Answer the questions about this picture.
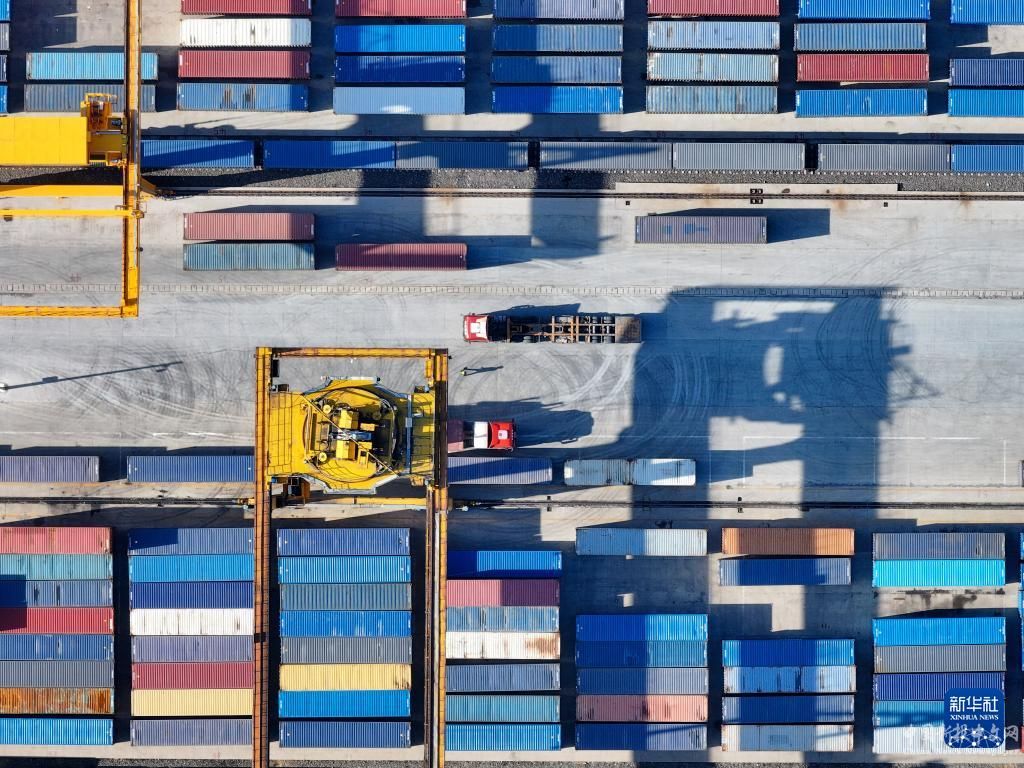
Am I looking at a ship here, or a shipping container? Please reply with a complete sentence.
I can see a shipping container in this picture.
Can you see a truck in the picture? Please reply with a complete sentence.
Yes, there's a truck down there.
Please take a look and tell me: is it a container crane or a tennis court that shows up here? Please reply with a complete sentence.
Of the two, only a container crane appears.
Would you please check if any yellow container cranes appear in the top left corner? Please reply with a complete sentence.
Yes, in the top left corner there is a yellow container crane.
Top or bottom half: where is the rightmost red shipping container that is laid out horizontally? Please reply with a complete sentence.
You can find the rightmost red shipping container that is laid out horizontally in the top half.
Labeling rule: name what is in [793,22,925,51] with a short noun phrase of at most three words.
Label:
shipping container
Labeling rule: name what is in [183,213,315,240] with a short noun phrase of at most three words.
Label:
shipping container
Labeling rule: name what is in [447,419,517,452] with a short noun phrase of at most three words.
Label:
truck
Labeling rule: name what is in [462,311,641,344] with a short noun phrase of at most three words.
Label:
truck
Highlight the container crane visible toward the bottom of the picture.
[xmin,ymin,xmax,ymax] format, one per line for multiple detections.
[245,348,469,768]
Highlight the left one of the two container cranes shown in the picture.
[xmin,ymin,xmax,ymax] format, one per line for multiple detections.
[0,0,182,318]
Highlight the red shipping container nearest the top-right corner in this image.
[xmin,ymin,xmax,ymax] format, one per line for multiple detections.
[796,54,928,82]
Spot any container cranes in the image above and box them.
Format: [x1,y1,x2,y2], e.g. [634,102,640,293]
[245,348,469,768]
[0,0,182,318]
